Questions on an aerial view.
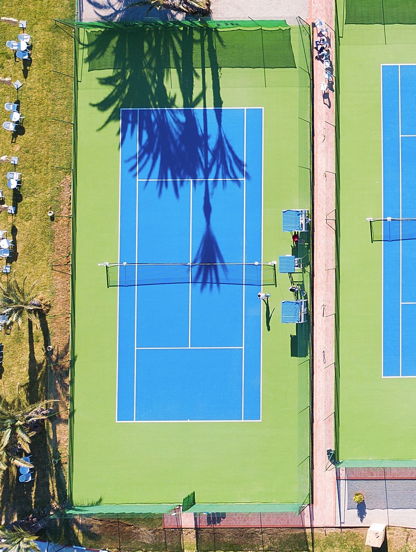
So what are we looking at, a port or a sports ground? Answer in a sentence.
What you see here is a sports ground.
